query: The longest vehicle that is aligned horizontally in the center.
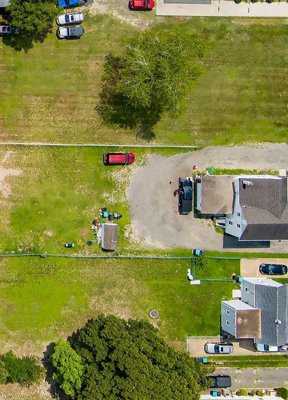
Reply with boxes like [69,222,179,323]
[105,152,137,166]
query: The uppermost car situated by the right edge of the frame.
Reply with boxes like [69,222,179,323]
[261,264,288,277]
